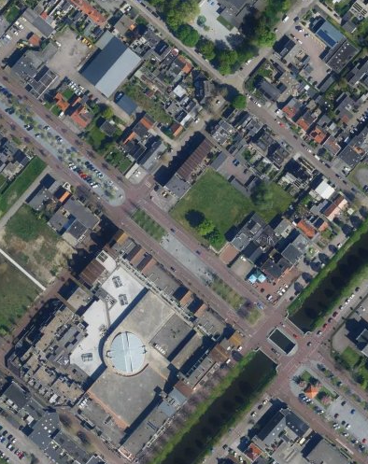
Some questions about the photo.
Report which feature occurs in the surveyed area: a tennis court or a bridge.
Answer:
bridge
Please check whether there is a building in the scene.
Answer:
Yes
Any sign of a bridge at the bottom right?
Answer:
Yes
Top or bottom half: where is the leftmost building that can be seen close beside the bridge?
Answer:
bottom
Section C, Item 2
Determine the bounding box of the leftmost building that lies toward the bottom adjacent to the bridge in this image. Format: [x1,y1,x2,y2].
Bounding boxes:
[6,238,245,463]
